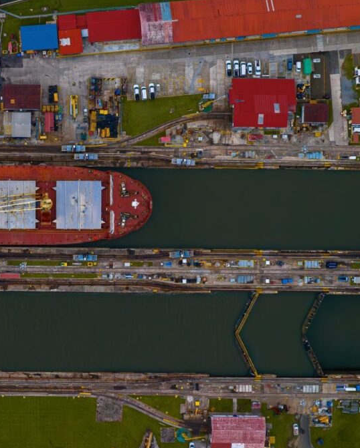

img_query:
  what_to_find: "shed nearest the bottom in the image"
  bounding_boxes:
[209,414,267,448]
